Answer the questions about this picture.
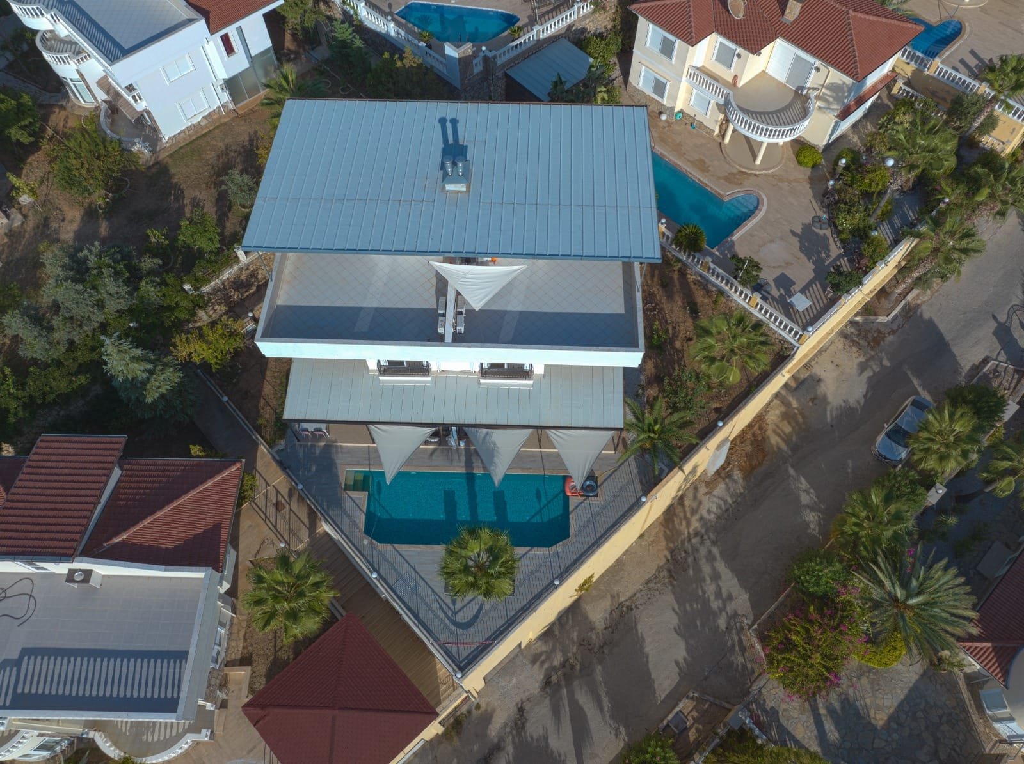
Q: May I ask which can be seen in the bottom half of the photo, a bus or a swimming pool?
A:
swimming pool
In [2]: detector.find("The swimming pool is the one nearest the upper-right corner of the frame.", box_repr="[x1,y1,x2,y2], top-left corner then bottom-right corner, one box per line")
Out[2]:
[911,14,970,61]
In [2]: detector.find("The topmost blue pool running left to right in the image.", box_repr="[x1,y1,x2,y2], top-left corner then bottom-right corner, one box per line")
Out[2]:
[393,1,521,44]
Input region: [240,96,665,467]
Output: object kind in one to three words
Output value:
house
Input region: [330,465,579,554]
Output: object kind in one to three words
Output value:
swimming pool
